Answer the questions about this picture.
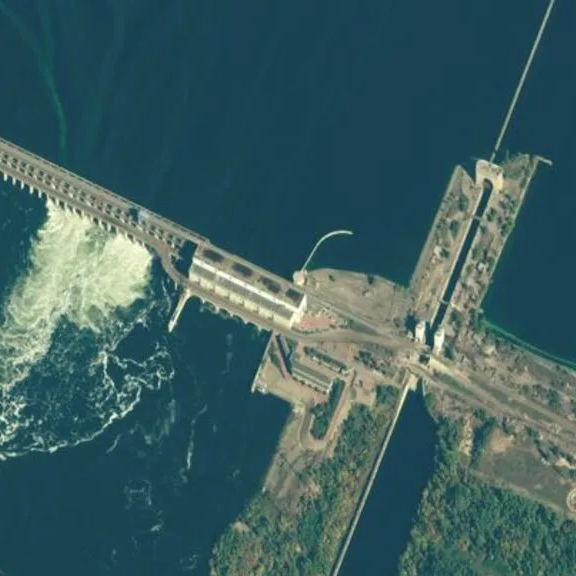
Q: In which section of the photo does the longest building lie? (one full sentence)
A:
The longest building is in the center part of the image.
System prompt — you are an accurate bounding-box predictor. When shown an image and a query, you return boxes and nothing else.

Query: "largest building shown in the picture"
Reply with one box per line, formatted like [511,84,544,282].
[180,240,316,343]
